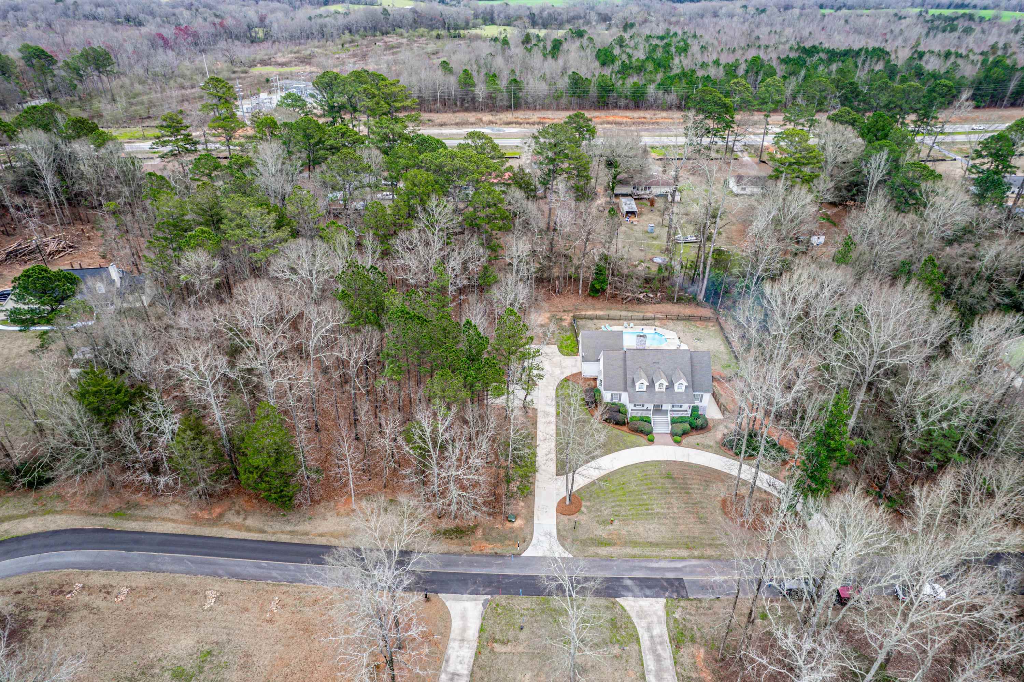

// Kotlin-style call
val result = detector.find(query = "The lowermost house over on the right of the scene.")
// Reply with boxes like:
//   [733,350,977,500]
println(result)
[578,330,713,433]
